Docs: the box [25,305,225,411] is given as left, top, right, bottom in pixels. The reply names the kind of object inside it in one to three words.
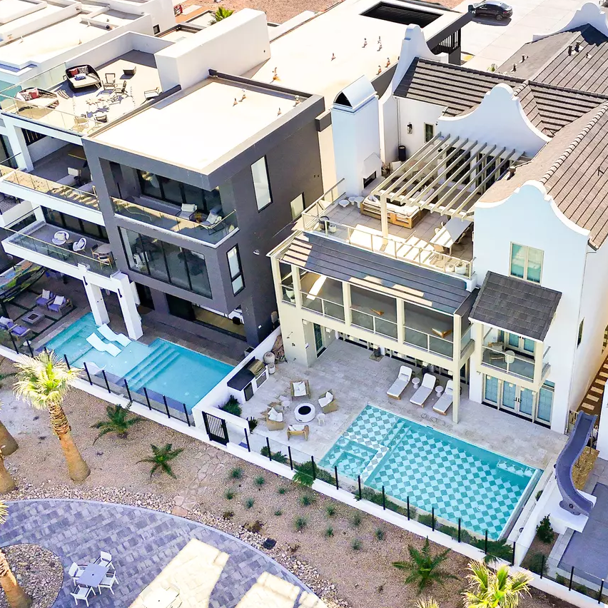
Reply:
swimming pool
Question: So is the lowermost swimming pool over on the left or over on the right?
right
